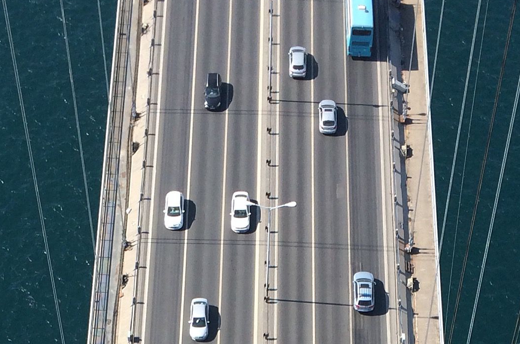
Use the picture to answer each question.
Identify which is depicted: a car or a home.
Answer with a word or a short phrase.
car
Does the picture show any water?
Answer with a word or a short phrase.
Yes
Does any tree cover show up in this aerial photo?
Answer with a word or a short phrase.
No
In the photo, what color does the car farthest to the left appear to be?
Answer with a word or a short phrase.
white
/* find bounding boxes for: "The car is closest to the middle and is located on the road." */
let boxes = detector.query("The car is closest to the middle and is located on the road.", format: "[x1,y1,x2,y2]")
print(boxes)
[229,195,252,235]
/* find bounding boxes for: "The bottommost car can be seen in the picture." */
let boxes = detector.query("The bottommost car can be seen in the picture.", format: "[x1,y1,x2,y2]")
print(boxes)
[188,299,210,343]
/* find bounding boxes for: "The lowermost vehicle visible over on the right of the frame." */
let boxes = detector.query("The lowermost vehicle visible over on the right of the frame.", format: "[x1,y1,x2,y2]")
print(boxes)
[353,273,376,314]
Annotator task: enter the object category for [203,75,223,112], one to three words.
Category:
car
